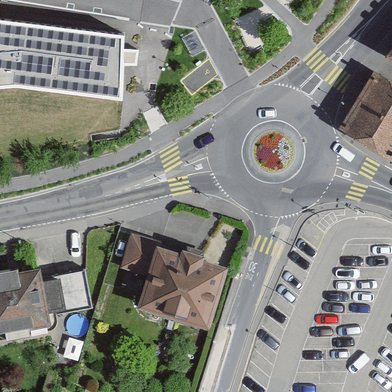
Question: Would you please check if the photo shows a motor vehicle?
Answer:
Yes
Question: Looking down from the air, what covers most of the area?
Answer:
paved ground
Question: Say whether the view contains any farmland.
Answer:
No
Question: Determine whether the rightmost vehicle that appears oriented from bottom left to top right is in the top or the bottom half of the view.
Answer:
bottom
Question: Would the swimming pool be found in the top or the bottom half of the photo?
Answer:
bottom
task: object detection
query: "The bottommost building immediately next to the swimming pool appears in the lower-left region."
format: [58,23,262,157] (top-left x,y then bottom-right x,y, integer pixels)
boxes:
[64,338,84,361]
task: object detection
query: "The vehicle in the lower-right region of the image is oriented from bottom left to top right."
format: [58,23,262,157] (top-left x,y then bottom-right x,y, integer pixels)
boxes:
[347,350,372,375]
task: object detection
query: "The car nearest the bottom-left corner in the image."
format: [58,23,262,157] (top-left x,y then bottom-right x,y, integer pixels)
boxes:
[69,232,82,258]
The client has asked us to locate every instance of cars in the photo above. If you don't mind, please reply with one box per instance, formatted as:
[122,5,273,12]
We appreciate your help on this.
[280,270,302,290]
[358,280,378,292]
[378,346,392,364]
[348,302,372,314]
[337,326,362,338]
[339,256,364,268]
[116,238,128,258]
[309,326,334,338]
[374,358,392,378]
[332,337,356,348]
[372,245,392,256]
[69,232,82,258]
[242,375,266,392]
[257,328,280,350]
[193,131,216,149]
[324,290,348,302]
[329,349,350,360]
[316,314,339,326]
[264,303,288,324]
[294,382,316,392]
[287,250,311,272]
[296,238,318,258]
[352,291,374,303]
[276,284,298,304]
[256,108,278,119]
[334,280,356,292]
[322,302,345,314]
[336,268,360,280]
[366,256,390,268]
[370,370,392,390]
